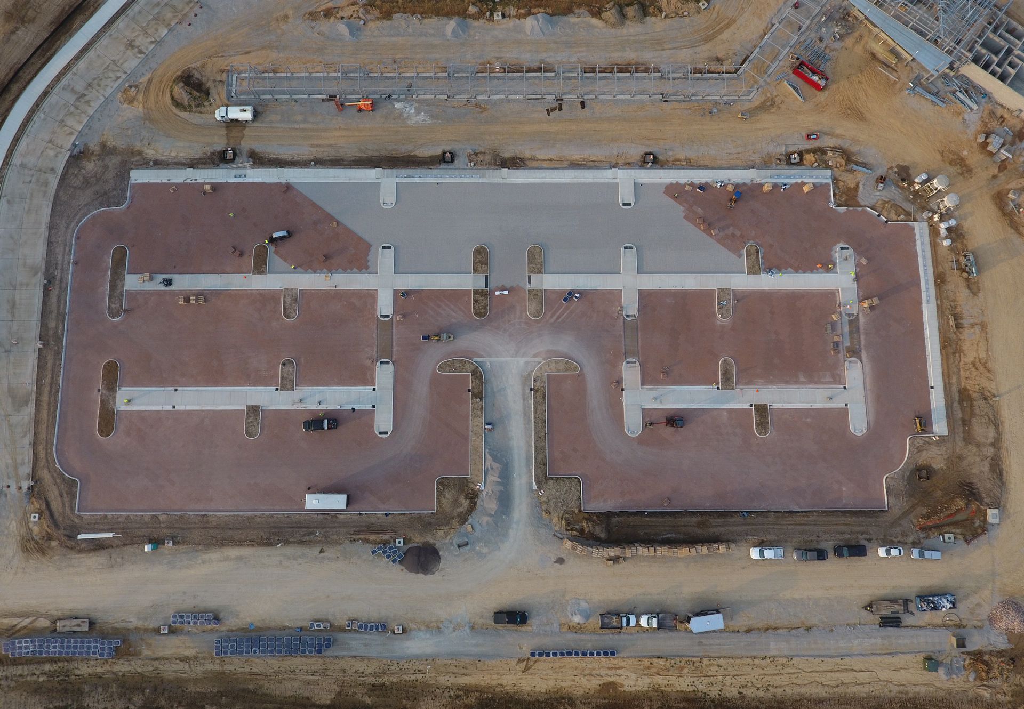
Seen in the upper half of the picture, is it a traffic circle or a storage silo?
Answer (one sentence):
The one visible in the upper half of the picture is a storage silo.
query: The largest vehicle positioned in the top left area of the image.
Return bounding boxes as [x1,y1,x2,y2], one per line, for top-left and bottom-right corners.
[212,105,262,124]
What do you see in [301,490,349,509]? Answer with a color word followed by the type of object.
white trailer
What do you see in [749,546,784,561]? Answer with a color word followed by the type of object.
white vehicle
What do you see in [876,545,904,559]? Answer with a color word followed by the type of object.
white car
